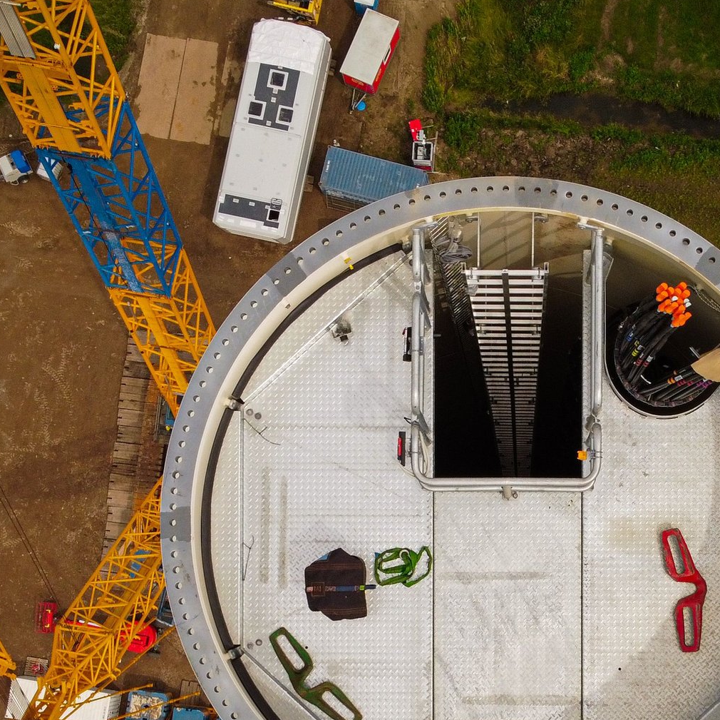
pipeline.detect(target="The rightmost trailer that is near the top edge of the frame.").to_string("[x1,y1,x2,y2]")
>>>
[339,9,400,116]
